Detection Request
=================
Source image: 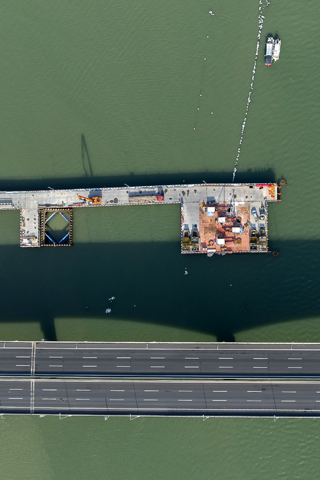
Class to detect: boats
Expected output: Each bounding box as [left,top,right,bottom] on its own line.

[272,40,279,62]
[265,40,272,66]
